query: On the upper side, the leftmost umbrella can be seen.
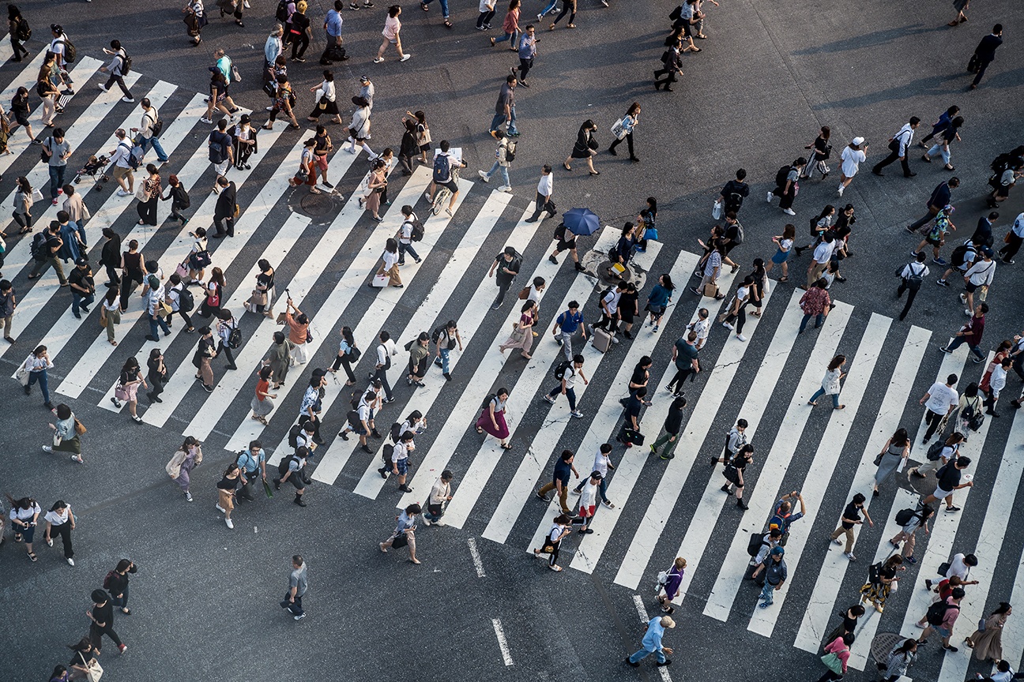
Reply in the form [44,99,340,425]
[563,205,603,231]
